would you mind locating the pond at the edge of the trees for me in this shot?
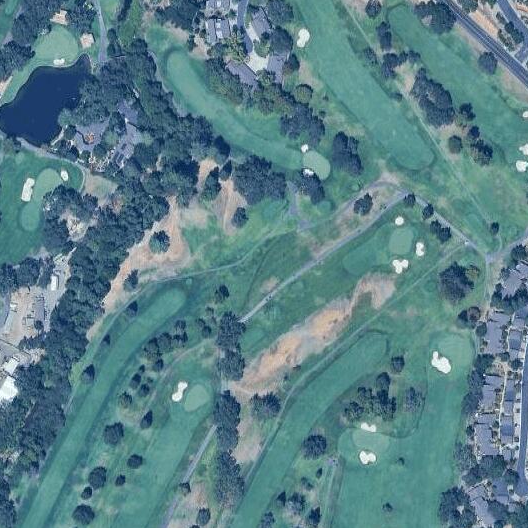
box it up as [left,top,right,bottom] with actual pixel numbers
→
[0,55,98,146]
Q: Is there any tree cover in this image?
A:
Yes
